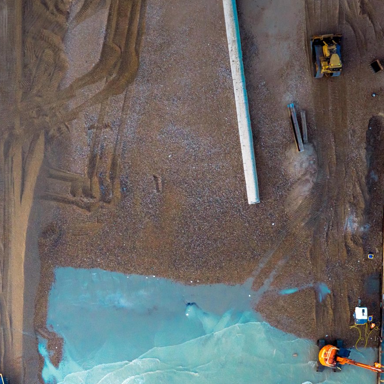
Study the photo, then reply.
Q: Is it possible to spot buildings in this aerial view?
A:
No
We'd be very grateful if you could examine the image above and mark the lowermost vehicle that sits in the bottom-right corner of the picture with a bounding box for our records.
[311,338,381,372]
